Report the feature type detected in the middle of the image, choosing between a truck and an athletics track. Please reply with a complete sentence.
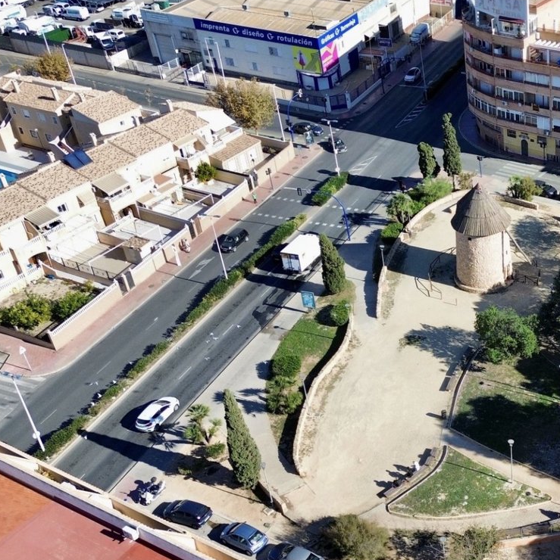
The feature located in the middle of the image is a truck.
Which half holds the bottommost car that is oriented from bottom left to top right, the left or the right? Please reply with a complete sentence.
The bottommost car that is oriented from bottom left to top right appears in the left half of the scene.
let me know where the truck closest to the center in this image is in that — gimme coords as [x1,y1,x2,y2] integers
[272,232,321,275]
